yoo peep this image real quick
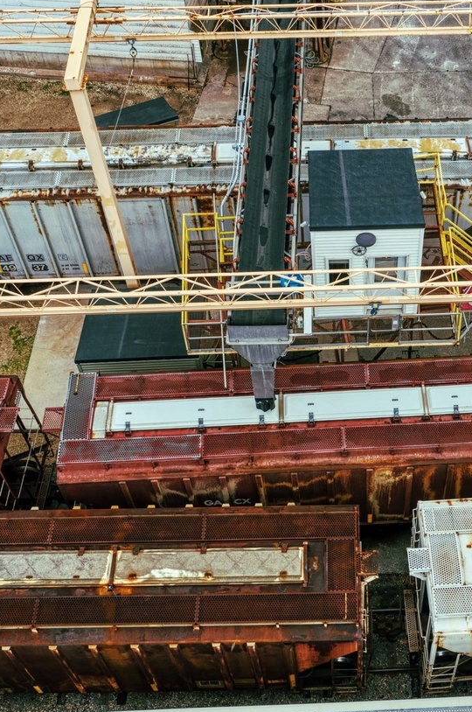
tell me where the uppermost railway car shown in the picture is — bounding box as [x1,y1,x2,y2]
[0,118,472,290]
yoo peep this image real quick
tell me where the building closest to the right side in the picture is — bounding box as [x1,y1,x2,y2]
[290,148,440,322]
